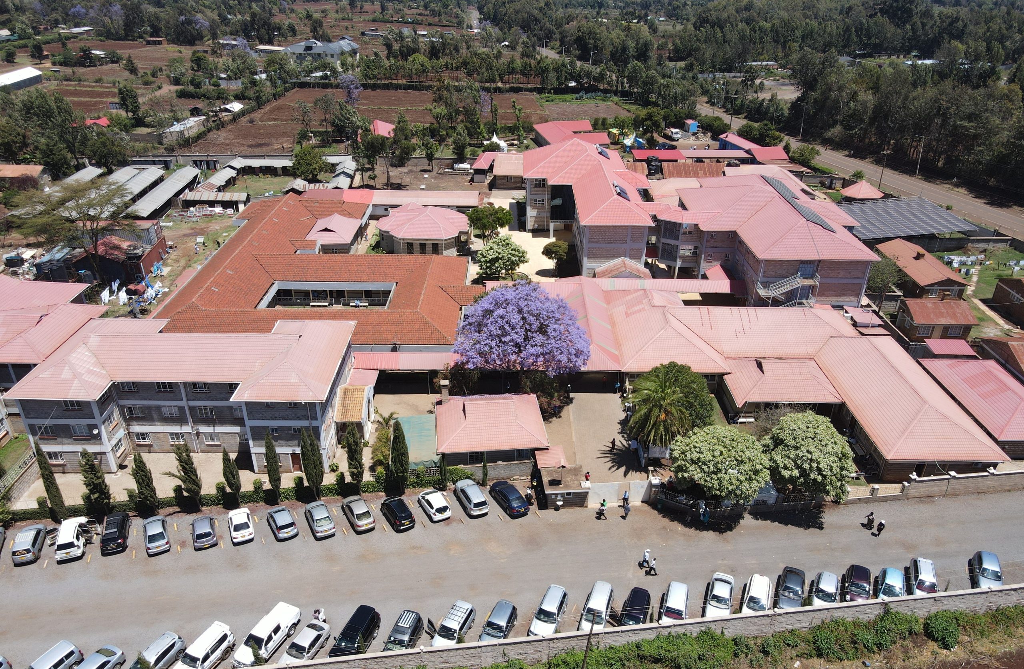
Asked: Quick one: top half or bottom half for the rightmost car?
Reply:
bottom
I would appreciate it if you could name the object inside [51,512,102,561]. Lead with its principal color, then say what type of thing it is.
white car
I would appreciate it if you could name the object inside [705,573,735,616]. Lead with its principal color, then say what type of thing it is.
white car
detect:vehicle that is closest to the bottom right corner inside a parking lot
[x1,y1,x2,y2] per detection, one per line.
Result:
[973,549,1007,586]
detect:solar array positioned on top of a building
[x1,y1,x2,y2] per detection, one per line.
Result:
[758,172,835,230]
